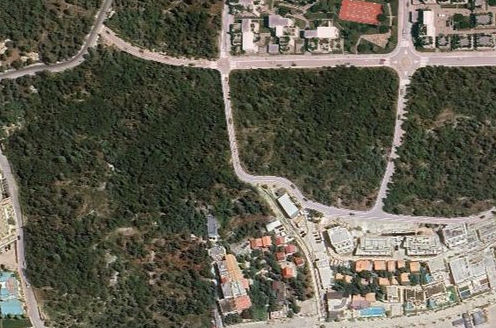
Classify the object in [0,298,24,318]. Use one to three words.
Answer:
swimming pool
